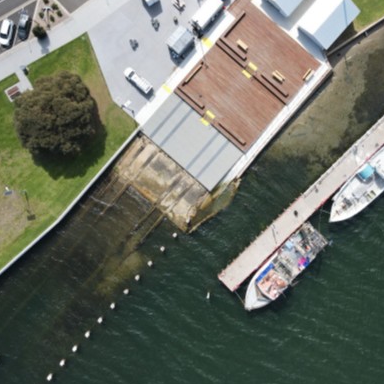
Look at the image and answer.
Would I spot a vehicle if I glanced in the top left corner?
Yes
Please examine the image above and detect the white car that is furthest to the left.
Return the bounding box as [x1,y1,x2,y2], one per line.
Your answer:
[0,18,17,49]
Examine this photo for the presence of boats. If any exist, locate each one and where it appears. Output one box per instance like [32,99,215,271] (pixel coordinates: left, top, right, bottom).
[329,149,384,223]
[247,223,327,311]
